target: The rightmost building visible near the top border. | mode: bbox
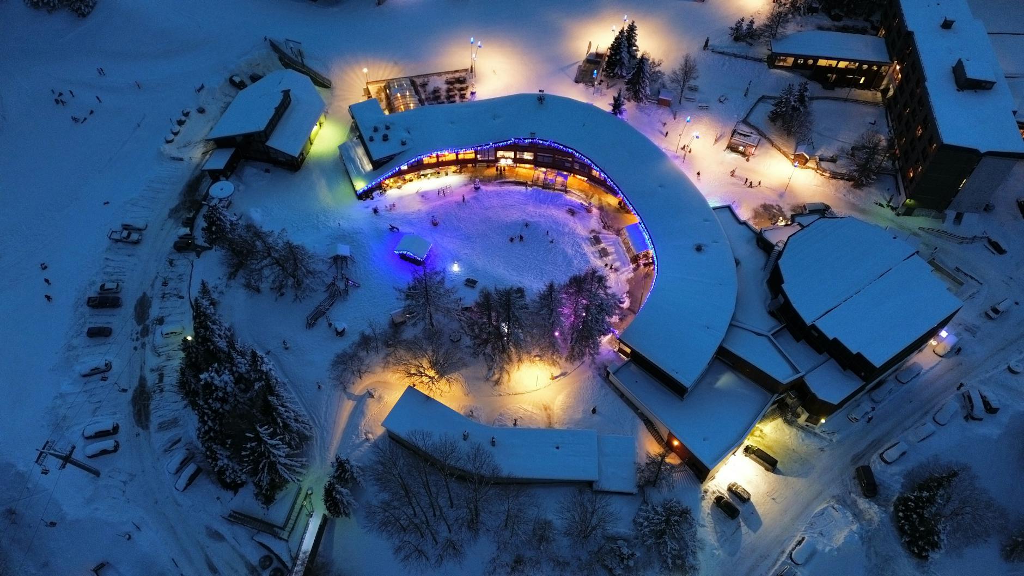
[869,0,1024,210]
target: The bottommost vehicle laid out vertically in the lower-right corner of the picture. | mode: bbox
[857,458,881,499]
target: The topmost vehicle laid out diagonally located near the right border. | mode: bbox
[987,236,1009,256]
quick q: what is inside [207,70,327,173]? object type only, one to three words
house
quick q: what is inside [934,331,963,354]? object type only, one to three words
car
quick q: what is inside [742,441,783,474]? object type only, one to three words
van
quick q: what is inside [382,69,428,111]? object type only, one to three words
greenhouse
